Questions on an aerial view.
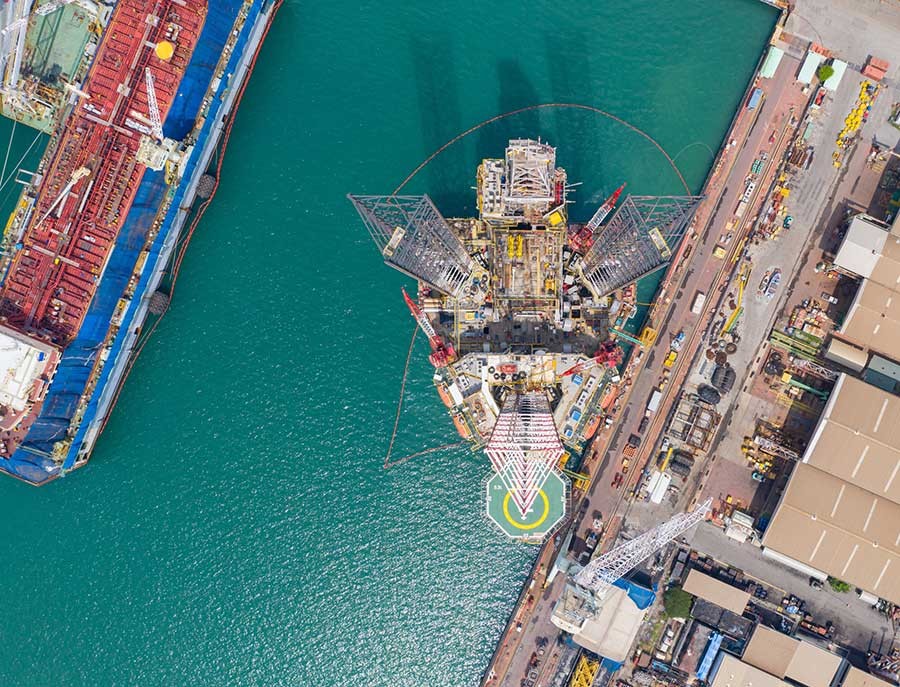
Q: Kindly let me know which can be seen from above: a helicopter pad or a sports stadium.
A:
helicopter pad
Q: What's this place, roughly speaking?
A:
port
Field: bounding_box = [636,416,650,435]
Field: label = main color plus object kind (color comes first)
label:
gray vehicle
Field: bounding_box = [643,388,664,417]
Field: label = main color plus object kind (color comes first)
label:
white truck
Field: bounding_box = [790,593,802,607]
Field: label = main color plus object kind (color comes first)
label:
gray vehicle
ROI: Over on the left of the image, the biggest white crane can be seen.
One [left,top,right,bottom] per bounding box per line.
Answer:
[138,69,195,189]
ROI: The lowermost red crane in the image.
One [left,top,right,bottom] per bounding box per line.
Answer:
[560,340,628,377]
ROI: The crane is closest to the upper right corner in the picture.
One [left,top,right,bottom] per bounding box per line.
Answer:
[568,182,628,255]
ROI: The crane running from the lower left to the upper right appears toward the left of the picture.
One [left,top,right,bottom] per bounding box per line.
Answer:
[36,164,98,227]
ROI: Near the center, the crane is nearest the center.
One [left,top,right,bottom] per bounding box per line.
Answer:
[402,288,458,367]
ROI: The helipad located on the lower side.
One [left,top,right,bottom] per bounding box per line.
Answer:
[481,452,571,544]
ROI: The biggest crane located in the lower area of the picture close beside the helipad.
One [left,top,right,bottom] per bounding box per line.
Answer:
[541,501,710,640]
